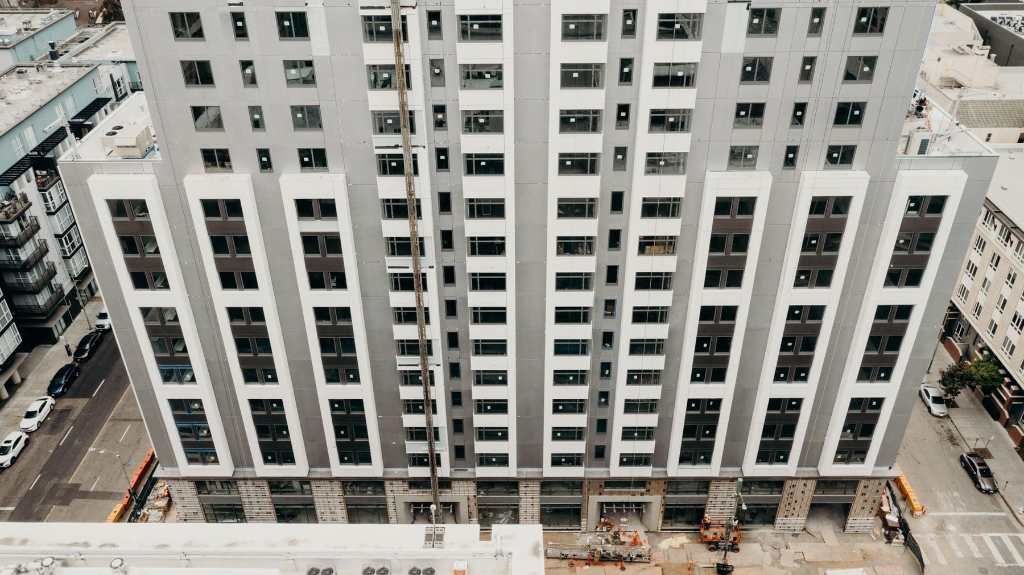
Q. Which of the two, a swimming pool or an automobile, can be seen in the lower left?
automobile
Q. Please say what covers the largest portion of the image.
buildings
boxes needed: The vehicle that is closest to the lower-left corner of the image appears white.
[0,432,32,465]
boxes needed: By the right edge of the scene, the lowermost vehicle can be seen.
[961,455,1000,495]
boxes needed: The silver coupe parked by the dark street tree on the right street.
[918,385,949,418]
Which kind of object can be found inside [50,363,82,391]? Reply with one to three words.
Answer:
car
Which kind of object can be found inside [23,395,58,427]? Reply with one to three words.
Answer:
car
